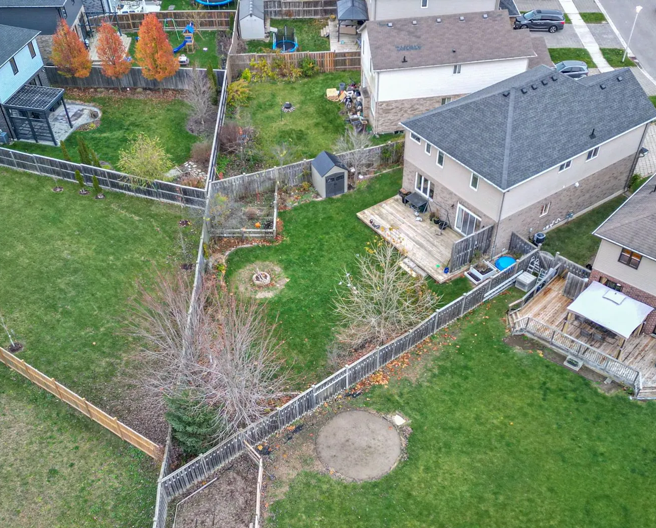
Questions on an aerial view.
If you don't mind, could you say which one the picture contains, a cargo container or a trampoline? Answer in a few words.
trampoline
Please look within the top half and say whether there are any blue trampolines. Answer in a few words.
Yes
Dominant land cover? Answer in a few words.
grass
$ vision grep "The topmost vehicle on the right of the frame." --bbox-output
[511,6,561,32]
